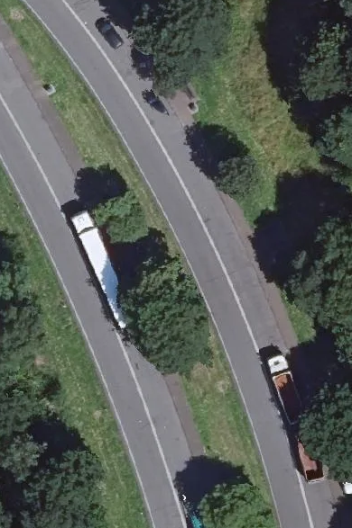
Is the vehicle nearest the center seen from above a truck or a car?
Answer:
truck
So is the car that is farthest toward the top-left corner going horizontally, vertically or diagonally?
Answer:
diagonally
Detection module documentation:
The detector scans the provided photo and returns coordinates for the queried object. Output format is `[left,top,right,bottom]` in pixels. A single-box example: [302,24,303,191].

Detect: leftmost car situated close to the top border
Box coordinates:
[96,17,123,50]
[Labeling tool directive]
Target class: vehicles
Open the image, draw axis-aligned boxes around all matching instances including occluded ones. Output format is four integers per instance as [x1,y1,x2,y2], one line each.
[96,17,123,50]
[142,89,170,117]
[69,209,135,328]
[133,52,156,82]
[178,489,206,528]
[264,354,307,424]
